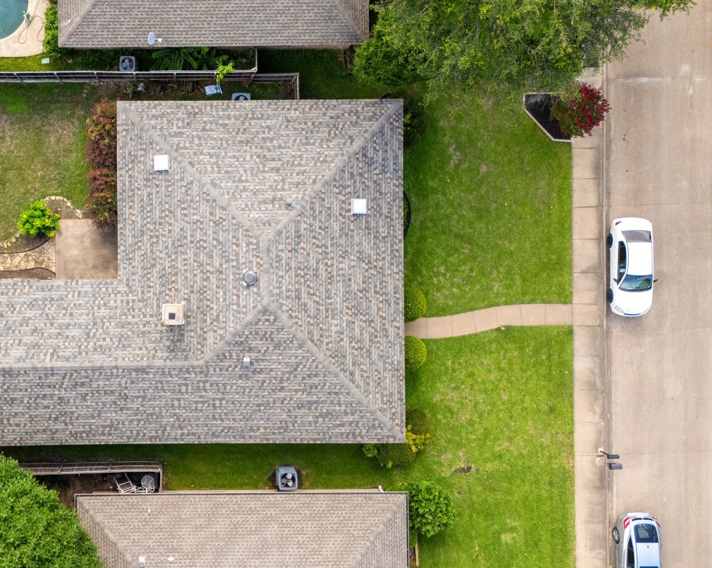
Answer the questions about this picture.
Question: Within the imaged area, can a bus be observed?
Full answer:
No, there's no bus here.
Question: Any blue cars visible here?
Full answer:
No, there's no blue car here.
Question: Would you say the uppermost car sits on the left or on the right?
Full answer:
It is on the right.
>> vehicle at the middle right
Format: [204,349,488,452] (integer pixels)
[606,219,661,317]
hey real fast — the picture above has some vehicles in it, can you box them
[610,509,662,568]
[606,219,661,317]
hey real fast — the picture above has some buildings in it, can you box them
[0,99,406,447]
[72,484,411,568]
[57,0,370,56]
